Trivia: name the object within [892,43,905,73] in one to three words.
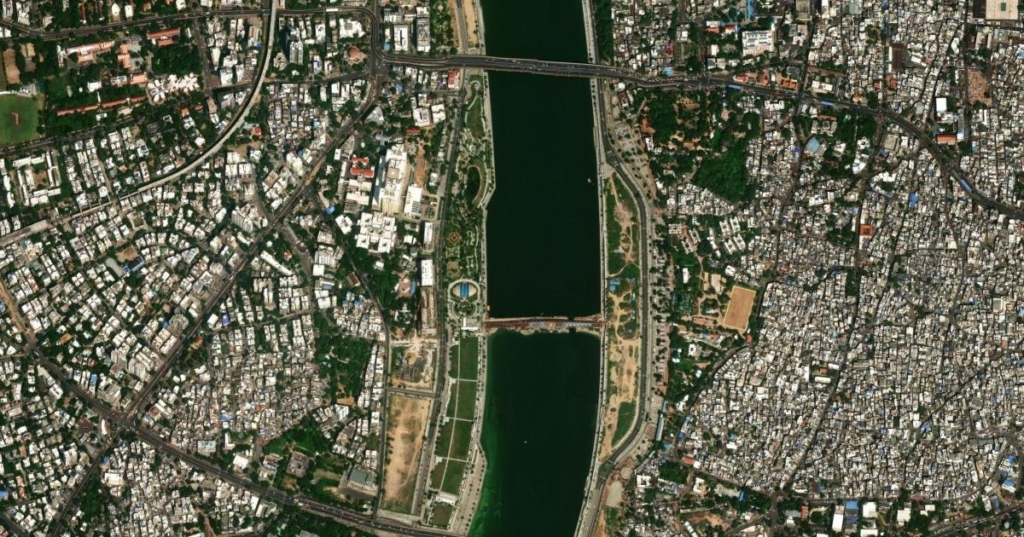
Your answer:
building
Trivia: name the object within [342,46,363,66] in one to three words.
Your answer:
building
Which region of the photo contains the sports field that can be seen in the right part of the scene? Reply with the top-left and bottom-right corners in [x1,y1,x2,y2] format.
[723,285,756,332]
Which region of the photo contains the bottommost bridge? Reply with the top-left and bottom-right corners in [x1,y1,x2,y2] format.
[287,498,495,537]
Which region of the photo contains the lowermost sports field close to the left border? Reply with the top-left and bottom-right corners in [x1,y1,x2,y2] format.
[0,95,38,144]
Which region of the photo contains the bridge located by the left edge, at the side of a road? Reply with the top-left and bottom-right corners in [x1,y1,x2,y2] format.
[48,0,277,227]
